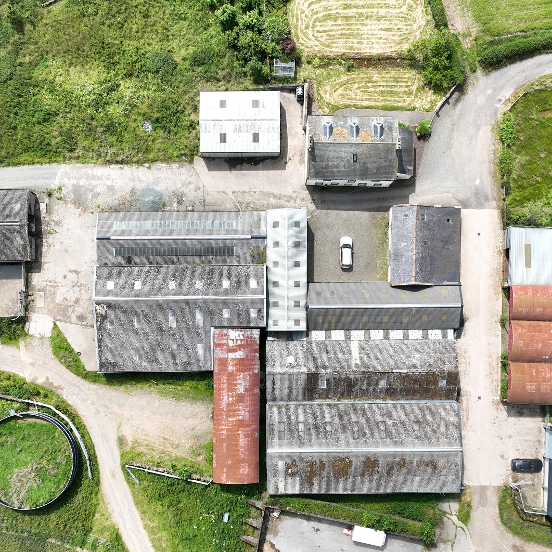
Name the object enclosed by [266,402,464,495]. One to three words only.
shed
